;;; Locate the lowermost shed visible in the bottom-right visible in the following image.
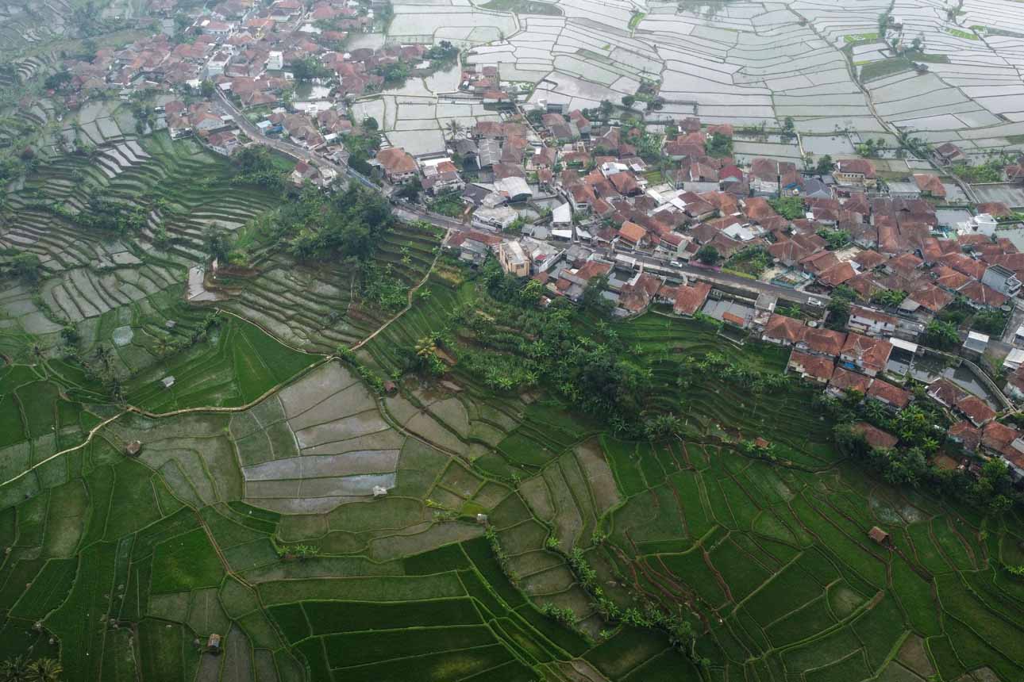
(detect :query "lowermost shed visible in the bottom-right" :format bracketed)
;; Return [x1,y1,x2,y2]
[869,521,894,545]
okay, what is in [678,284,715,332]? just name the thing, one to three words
house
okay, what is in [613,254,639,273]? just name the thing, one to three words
shed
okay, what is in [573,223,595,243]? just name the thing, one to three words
shed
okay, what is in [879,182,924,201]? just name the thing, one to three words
house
